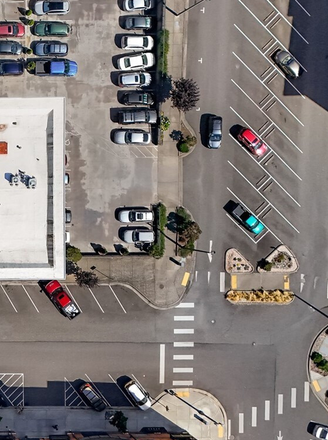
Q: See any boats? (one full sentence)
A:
No, there isn't any boat down there.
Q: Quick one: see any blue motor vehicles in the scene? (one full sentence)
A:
Yes, the image includes a blue motor vehicle.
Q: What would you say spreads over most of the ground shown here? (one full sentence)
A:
Most of the picture is covered by paved ground.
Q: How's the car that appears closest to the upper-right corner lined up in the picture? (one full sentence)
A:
The car that appears closest to the upper-right corner has been laid out on a diagonal relative to the frame.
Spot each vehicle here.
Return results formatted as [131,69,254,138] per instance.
[112,129,150,145]
[122,375,151,409]
[205,114,223,148]
[76,378,107,412]
[32,40,68,56]
[66,209,72,224]
[34,59,75,76]
[116,208,153,224]
[33,0,69,16]
[269,48,302,79]
[117,108,158,125]
[117,72,151,87]
[120,0,154,13]
[33,20,69,37]
[121,227,156,244]
[115,53,153,70]
[45,280,77,320]
[0,39,22,56]
[227,200,263,237]
[122,90,154,106]
[120,34,153,51]
[236,126,268,159]
[66,231,71,244]
[0,61,23,77]
[309,424,328,440]
[120,14,152,31]
[0,21,25,38]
